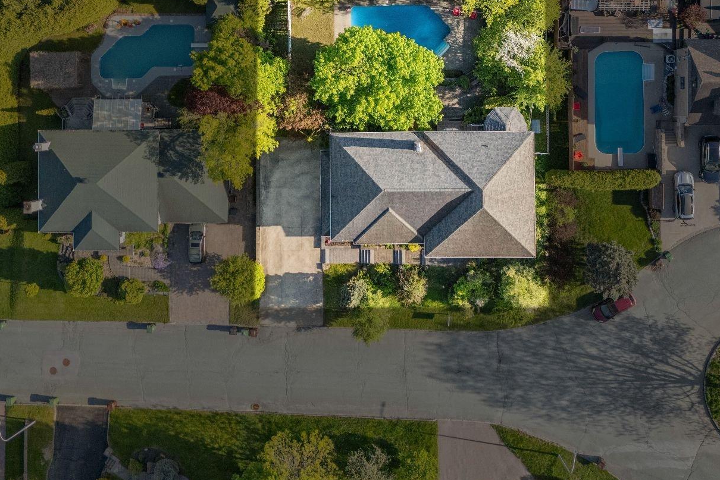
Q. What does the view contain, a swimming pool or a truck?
swimming pool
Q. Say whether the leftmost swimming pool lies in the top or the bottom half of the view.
top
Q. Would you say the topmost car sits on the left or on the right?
right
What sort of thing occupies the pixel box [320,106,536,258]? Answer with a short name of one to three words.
house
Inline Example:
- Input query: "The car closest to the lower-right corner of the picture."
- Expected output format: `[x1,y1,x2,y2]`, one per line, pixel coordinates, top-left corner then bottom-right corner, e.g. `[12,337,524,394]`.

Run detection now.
[587,287,640,325]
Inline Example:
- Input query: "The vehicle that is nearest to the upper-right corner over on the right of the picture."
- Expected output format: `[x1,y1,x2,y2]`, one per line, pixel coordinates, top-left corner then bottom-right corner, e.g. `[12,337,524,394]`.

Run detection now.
[695,131,720,185]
